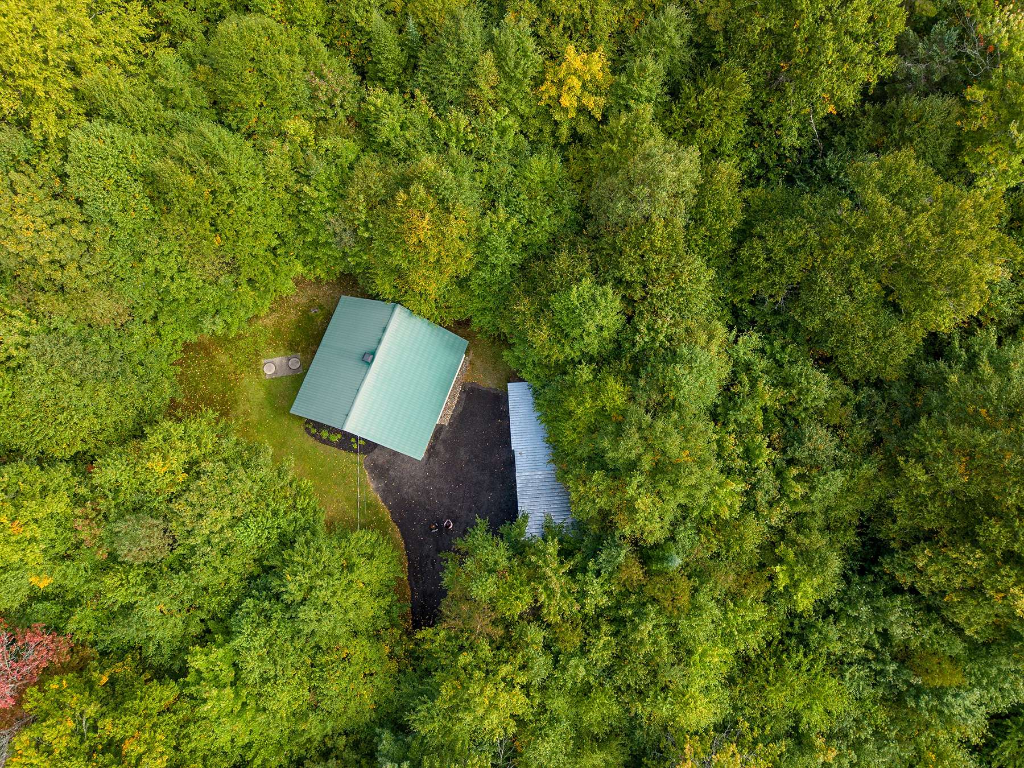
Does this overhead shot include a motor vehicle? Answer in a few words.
No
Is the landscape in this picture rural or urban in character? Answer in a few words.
rural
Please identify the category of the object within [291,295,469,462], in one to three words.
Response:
house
